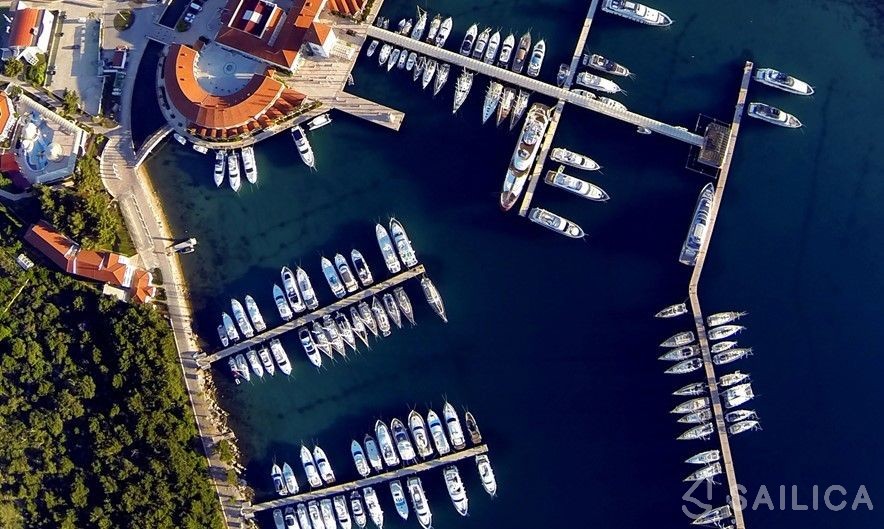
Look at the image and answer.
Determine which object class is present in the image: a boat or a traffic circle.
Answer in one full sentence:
Looking from above, you can make out a boat.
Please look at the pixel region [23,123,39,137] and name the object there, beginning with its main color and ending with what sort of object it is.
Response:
white umbrella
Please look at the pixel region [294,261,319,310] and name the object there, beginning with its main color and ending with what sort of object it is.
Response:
white boat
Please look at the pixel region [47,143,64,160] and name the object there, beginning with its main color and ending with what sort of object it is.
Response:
white umbrella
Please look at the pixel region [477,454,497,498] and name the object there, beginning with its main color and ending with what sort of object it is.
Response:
white boat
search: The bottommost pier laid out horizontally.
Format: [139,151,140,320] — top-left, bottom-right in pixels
[254,444,488,513]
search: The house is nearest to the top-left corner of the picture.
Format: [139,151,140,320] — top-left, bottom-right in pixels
[0,3,54,67]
